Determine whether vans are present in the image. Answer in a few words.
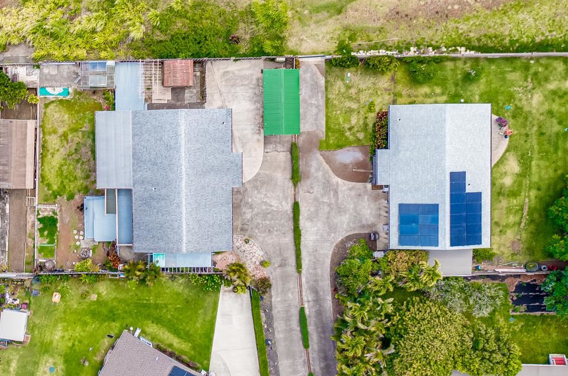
No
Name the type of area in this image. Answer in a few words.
residential area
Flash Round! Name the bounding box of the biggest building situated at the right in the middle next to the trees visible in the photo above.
[373,103,491,276]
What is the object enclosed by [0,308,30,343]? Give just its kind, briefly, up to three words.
shed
